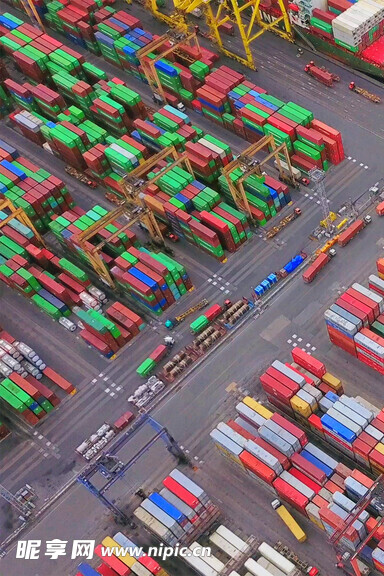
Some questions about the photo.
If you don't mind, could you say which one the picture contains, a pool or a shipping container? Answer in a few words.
shipping container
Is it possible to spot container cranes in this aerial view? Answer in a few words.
Yes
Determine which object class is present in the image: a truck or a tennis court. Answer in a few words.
truck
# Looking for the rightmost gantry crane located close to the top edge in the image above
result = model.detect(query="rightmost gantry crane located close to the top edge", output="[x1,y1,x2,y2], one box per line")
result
[203,0,297,71]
